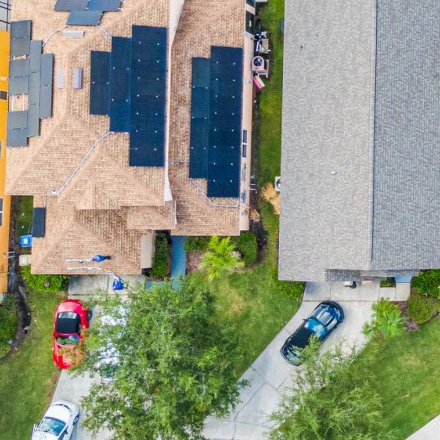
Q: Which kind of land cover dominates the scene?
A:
buildings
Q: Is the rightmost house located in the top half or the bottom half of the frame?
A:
top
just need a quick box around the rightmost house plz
[277,0,440,282]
